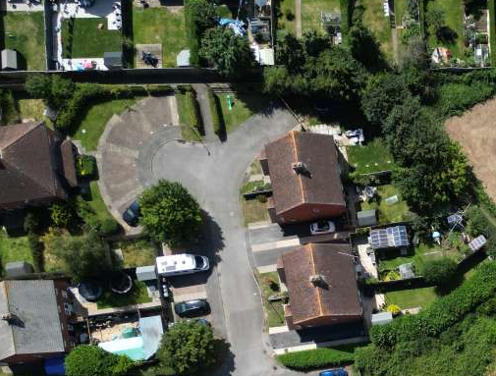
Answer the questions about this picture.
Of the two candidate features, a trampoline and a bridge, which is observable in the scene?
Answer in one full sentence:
Looking from above, you can make out a trampoline.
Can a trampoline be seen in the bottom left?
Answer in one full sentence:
Yes, I can see a trampoline in the bottom left.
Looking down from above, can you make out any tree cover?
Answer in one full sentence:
Yes, there is tree cover in the image.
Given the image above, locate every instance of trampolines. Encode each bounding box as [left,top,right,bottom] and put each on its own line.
[112,274,133,294]
[78,281,104,304]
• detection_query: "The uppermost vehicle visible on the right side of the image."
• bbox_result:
[307,220,339,237]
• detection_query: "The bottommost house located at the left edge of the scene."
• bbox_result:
[0,277,81,365]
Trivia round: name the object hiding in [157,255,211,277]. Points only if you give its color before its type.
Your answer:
white camper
